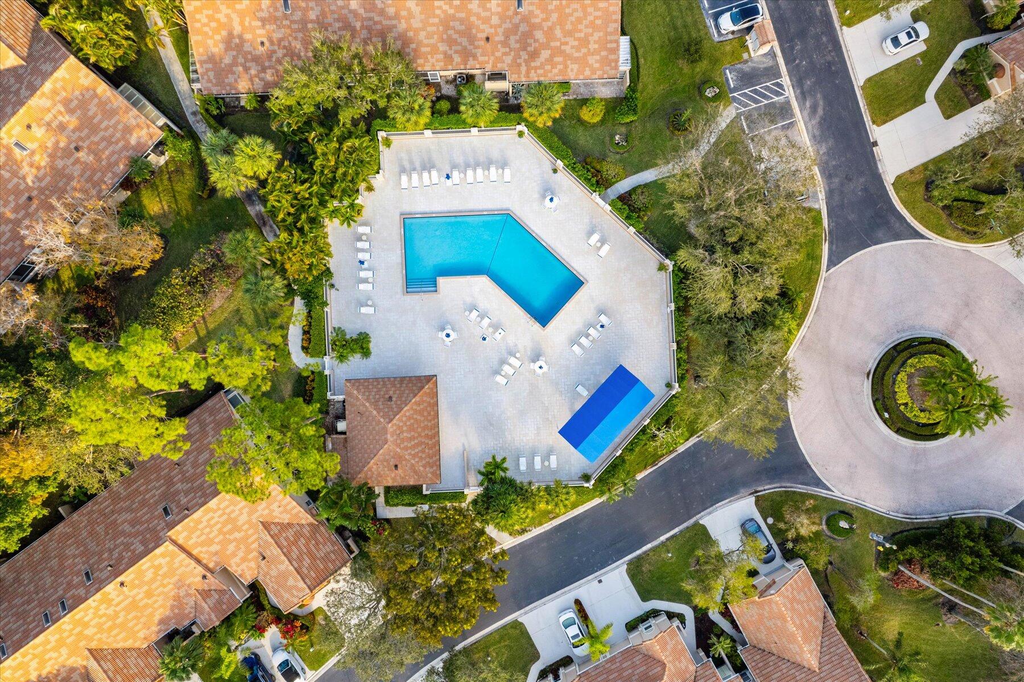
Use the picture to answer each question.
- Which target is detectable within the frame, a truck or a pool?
pool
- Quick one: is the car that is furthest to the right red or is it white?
white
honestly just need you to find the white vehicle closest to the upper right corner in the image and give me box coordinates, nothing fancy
[880,22,930,56]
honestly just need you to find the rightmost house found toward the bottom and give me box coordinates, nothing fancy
[726,554,880,682]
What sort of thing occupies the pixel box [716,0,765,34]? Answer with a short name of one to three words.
car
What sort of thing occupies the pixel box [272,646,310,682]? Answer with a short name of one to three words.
car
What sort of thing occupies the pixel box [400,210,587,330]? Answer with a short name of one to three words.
swimming pool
